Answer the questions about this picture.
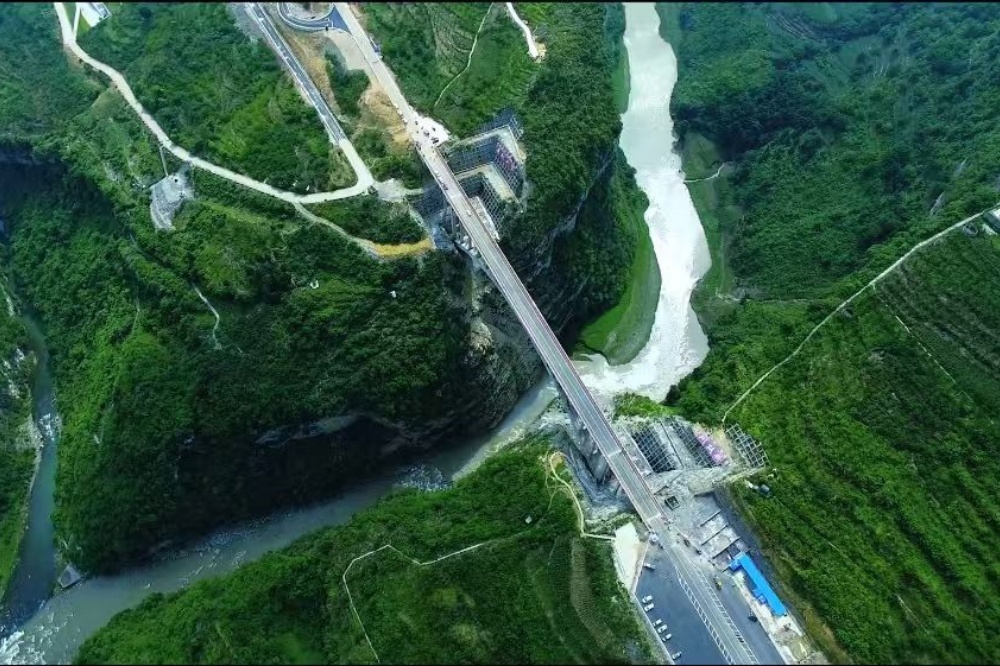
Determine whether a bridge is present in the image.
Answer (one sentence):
Yes, the picture does show a bridge.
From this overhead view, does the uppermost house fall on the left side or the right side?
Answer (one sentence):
You can find the uppermost house on the left side of the picture.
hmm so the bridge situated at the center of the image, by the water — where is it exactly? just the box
[419,146,667,521]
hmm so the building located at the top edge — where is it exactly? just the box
[83,0,115,29]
